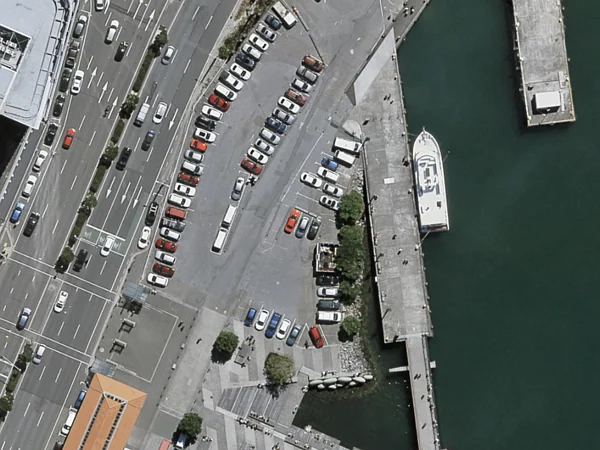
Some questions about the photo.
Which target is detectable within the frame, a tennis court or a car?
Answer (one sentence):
This aerial view contains a car.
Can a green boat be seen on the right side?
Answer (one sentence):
No, I can find no green boat on the right side.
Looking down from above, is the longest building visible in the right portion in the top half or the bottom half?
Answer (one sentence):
It is in the top half that the longest building visible in the right portion appears.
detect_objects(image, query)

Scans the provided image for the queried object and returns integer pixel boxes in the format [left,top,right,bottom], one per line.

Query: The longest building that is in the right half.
[345,28,395,106]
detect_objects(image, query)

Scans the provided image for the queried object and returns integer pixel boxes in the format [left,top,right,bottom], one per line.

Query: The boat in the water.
[413,126,449,232]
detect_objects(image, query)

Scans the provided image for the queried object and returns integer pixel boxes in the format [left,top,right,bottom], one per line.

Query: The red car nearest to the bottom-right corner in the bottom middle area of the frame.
[309,326,323,347]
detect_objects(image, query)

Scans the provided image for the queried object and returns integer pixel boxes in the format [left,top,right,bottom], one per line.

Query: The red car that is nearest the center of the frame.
[285,208,300,231]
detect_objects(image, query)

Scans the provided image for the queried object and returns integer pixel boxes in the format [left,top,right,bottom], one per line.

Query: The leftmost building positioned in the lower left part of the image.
[64,373,147,450]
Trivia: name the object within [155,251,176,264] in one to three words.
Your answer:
vehicle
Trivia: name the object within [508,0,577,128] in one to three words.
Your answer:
pier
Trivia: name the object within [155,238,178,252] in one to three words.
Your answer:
vehicle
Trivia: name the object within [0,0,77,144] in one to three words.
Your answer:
building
